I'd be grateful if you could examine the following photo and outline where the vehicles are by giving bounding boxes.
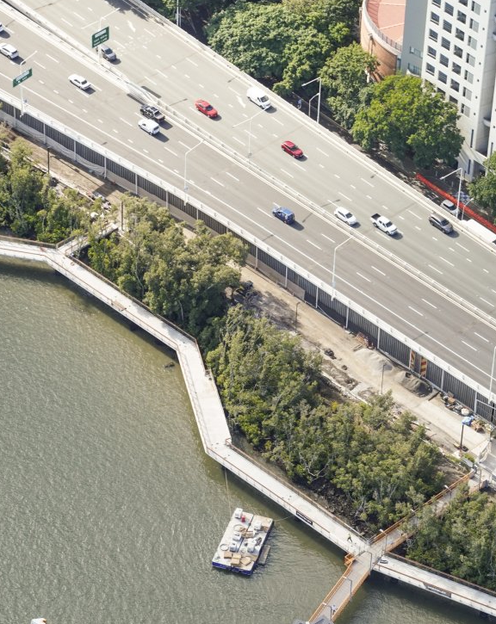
[367,213,396,234]
[278,139,301,157]
[66,74,89,91]
[267,205,292,223]
[134,117,158,135]
[424,212,450,232]
[437,198,461,216]
[93,43,116,59]
[193,99,215,116]
[243,86,268,107]
[136,103,163,123]
[0,42,16,58]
